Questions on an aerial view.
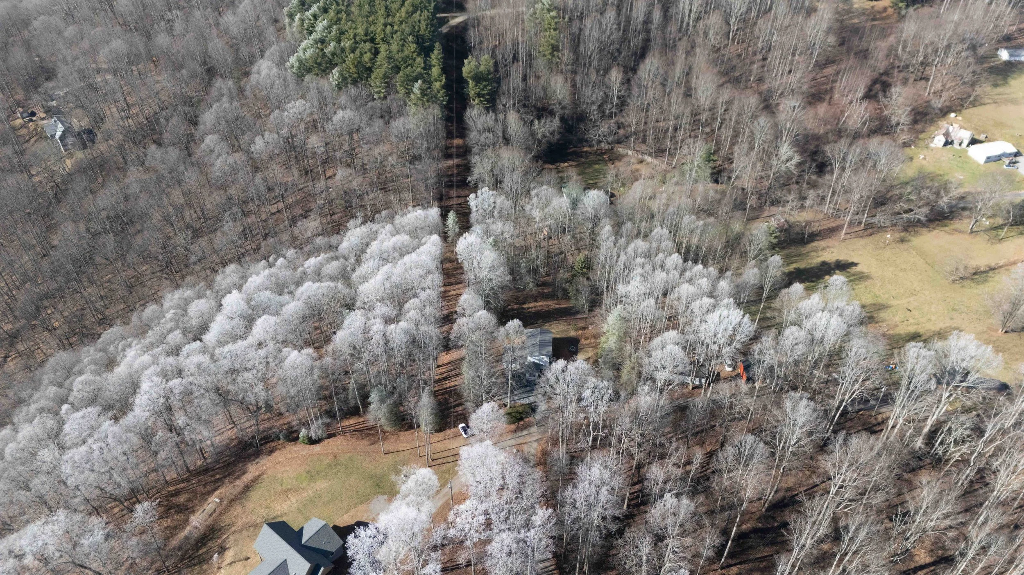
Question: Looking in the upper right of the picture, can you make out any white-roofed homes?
Yes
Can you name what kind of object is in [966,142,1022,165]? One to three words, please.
house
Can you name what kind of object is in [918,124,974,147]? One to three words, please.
house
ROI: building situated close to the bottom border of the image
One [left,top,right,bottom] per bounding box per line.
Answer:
[245,519,344,575]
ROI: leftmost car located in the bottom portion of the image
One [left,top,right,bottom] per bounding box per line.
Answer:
[455,422,471,439]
